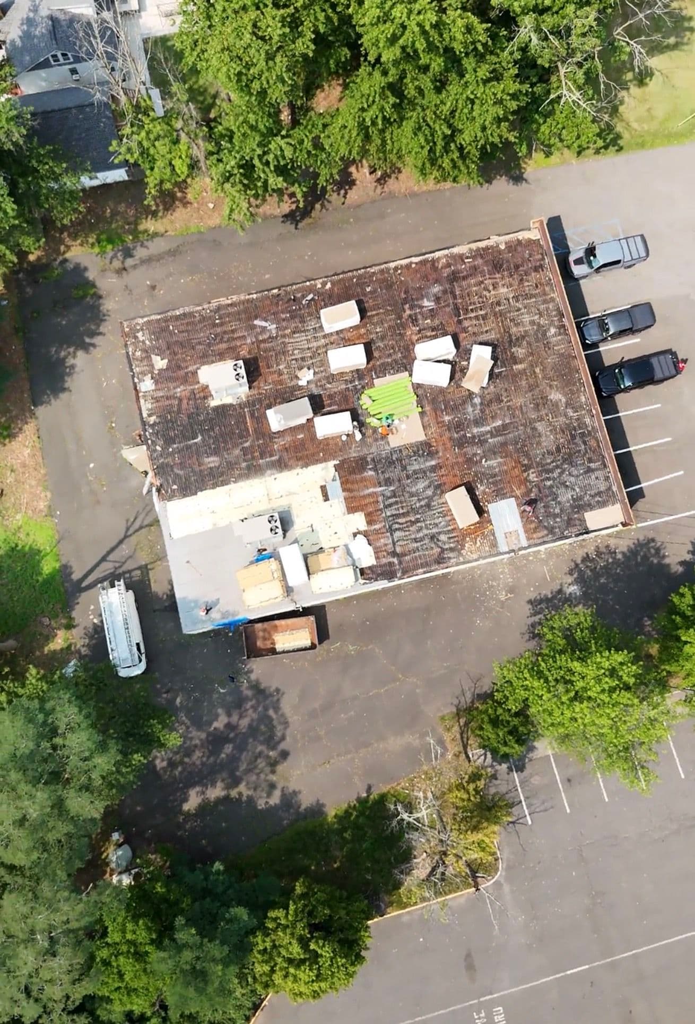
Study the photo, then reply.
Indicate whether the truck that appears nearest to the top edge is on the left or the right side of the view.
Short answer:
right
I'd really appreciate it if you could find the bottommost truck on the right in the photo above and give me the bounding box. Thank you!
[592,348,684,400]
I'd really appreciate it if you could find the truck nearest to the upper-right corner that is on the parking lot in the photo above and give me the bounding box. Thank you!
[568,233,651,282]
